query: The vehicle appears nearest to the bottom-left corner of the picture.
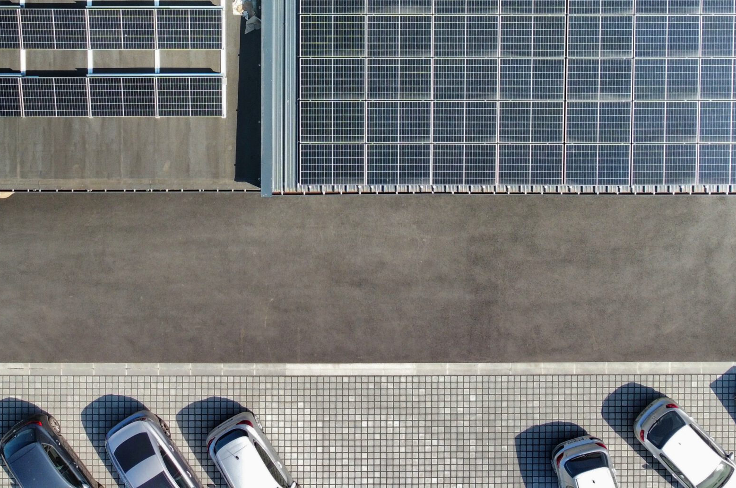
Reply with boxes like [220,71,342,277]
[0,414,100,488]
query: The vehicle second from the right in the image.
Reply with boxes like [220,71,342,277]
[553,440,623,488]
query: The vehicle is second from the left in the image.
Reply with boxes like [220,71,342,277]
[106,414,201,488]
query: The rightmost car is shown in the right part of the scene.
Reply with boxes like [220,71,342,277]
[634,398,736,488]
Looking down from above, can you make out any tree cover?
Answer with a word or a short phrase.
No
